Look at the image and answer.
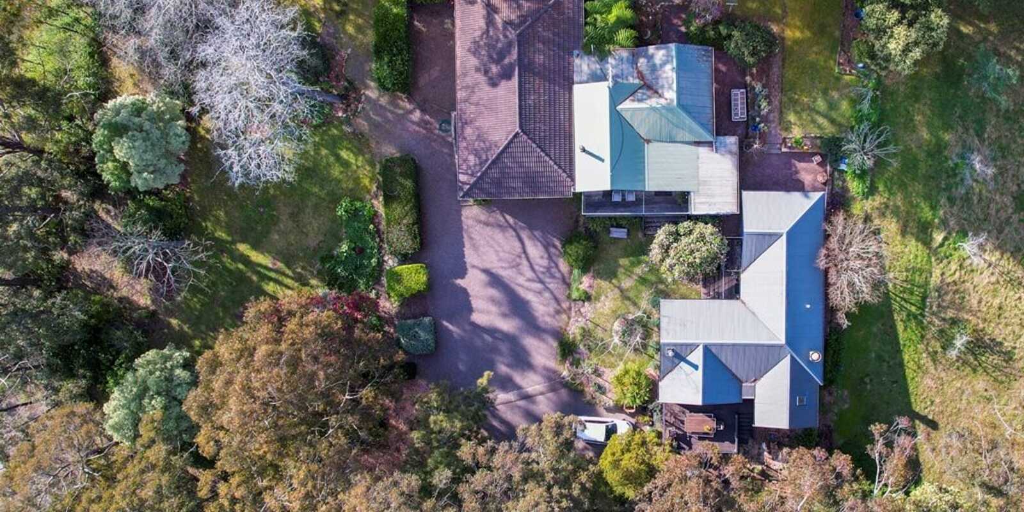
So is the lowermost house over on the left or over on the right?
right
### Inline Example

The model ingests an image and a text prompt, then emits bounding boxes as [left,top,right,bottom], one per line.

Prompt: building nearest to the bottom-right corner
[656,189,827,430]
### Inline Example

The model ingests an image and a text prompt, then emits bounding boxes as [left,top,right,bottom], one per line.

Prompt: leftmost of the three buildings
[455,0,576,199]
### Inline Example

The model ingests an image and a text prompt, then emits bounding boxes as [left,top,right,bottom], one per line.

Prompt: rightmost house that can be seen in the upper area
[574,41,742,215]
